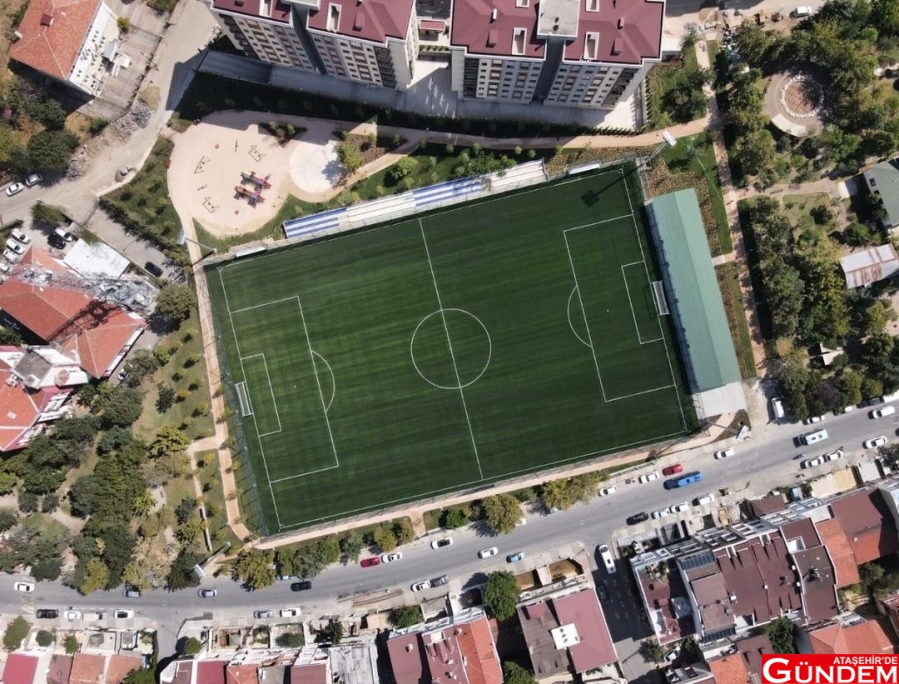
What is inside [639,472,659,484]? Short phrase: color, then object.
white vehicle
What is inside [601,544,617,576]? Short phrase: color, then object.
white vehicle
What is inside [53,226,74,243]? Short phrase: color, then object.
white car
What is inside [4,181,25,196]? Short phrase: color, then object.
white car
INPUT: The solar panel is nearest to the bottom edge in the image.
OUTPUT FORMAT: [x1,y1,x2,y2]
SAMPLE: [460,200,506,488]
[702,629,736,647]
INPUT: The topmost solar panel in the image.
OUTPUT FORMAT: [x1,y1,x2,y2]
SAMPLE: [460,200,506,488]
[680,553,715,573]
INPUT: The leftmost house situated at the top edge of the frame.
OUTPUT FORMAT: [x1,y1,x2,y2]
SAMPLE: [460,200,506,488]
[9,0,135,96]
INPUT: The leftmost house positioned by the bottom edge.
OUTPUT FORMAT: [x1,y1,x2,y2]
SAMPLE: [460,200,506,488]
[3,641,57,684]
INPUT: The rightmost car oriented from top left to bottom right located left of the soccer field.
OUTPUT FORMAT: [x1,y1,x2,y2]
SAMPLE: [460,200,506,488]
[143,261,163,277]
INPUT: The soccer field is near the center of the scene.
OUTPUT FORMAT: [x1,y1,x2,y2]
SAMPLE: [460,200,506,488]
[202,161,701,535]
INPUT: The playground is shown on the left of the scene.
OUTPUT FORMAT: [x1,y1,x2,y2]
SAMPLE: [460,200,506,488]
[165,110,355,229]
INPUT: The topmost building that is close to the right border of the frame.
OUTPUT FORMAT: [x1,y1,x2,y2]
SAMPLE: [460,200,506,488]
[849,149,899,228]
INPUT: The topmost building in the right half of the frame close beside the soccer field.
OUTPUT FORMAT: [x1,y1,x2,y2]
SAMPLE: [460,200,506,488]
[449,0,667,112]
